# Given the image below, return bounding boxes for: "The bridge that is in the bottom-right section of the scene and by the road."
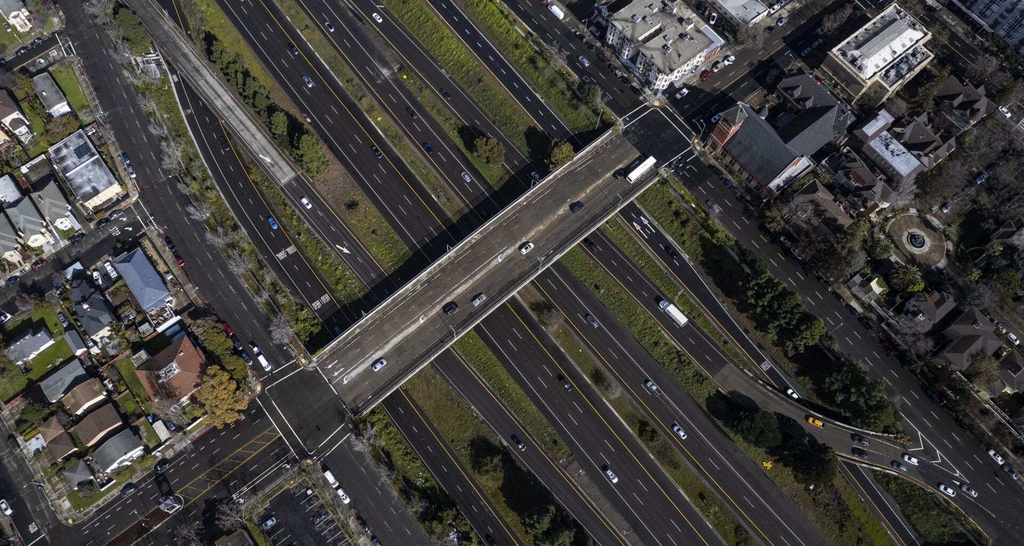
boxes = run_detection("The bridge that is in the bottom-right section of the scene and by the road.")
[714,361,896,473]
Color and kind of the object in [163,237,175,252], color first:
black vehicle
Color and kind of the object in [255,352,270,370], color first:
white vehicle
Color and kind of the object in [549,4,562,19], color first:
white vehicle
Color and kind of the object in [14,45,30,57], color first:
black vehicle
